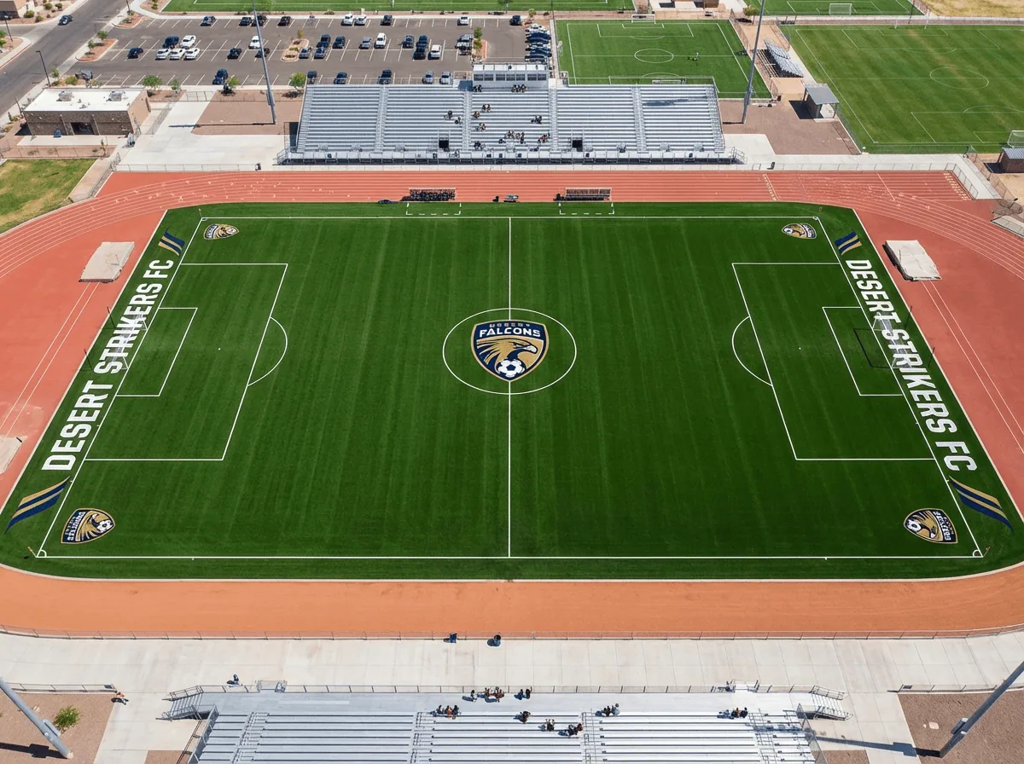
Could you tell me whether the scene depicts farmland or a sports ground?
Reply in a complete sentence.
The area seen from above is a sports ground.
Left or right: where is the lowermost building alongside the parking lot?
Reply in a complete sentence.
The lowermost building alongside the parking lot is on the left side of the image.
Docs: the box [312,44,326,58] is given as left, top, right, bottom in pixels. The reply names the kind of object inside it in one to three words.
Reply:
car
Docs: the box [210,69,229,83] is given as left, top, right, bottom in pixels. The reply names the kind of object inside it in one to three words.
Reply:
car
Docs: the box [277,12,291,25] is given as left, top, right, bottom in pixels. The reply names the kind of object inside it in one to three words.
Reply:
vehicle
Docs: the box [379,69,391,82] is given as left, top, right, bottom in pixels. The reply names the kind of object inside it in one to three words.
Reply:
vehicle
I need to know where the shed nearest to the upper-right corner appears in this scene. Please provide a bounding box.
[993,141,1024,169]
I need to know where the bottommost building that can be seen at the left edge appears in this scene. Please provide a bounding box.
[21,88,151,136]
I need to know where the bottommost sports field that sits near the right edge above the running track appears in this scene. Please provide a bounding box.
[782,24,1024,153]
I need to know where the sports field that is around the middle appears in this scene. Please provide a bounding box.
[0,203,1024,578]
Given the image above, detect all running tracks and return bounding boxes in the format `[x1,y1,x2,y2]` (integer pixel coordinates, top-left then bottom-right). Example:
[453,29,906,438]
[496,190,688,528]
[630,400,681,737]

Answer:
[0,170,1024,519]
